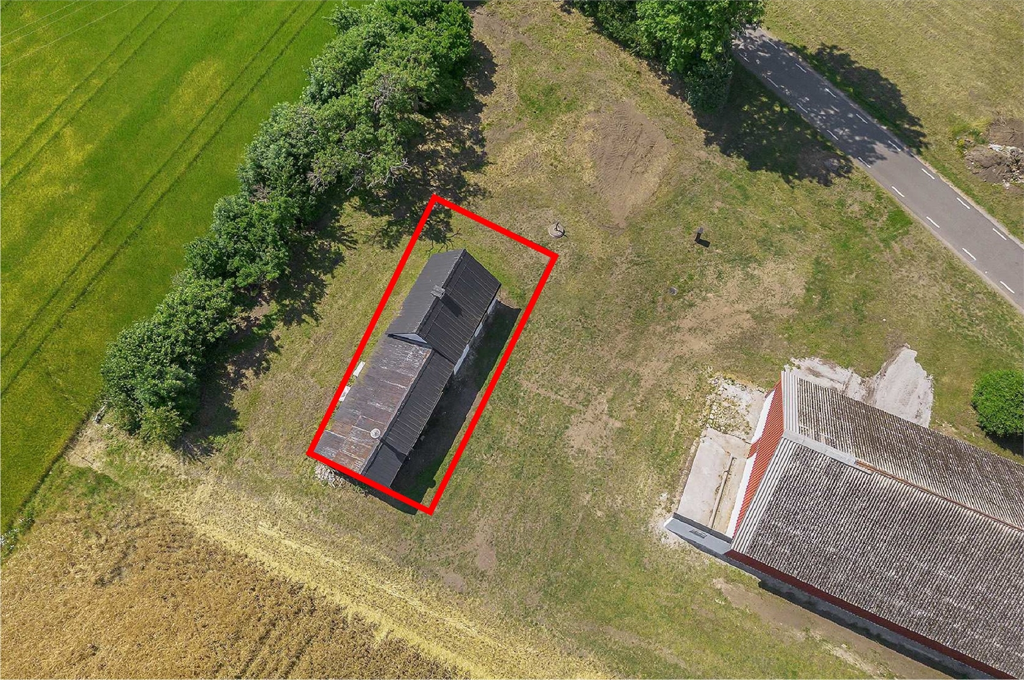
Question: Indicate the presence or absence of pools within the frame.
No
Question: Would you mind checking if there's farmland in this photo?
Yes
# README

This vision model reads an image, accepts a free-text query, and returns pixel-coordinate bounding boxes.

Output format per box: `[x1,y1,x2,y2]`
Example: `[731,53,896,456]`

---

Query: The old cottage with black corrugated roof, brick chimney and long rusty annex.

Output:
[311,251,502,498]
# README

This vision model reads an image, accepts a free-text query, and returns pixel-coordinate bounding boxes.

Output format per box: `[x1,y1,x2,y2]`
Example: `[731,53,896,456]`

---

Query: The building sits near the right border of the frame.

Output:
[717,369,1024,680]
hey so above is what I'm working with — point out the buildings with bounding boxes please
[311,251,502,498]
[717,369,1024,680]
